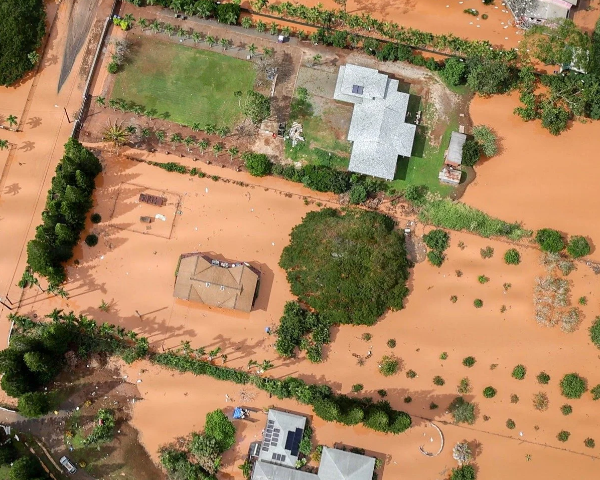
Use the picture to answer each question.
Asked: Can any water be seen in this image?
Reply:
Yes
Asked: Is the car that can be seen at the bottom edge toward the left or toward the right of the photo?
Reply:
left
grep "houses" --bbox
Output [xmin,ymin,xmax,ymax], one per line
[174,252,260,313]
[334,63,416,183]
[252,409,376,480]
[525,0,577,22]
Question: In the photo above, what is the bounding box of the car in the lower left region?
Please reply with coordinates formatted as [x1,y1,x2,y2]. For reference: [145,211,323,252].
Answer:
[58,454,78,477]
